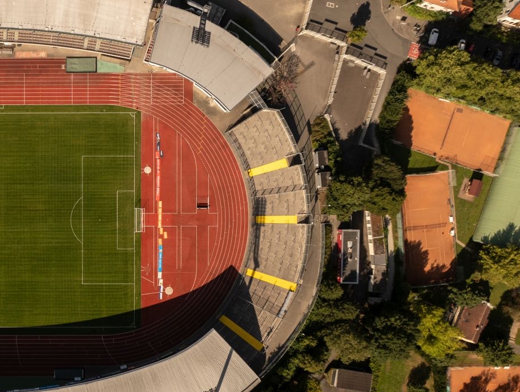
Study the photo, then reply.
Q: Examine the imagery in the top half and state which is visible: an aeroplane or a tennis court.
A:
tennis court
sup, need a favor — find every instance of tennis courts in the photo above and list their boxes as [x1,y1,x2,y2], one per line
[398,89,510,169]
[448,366,520,392]
[403,171,456,286]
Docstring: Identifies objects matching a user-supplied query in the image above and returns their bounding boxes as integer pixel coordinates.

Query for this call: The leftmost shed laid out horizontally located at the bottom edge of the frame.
[328,366,372,392]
